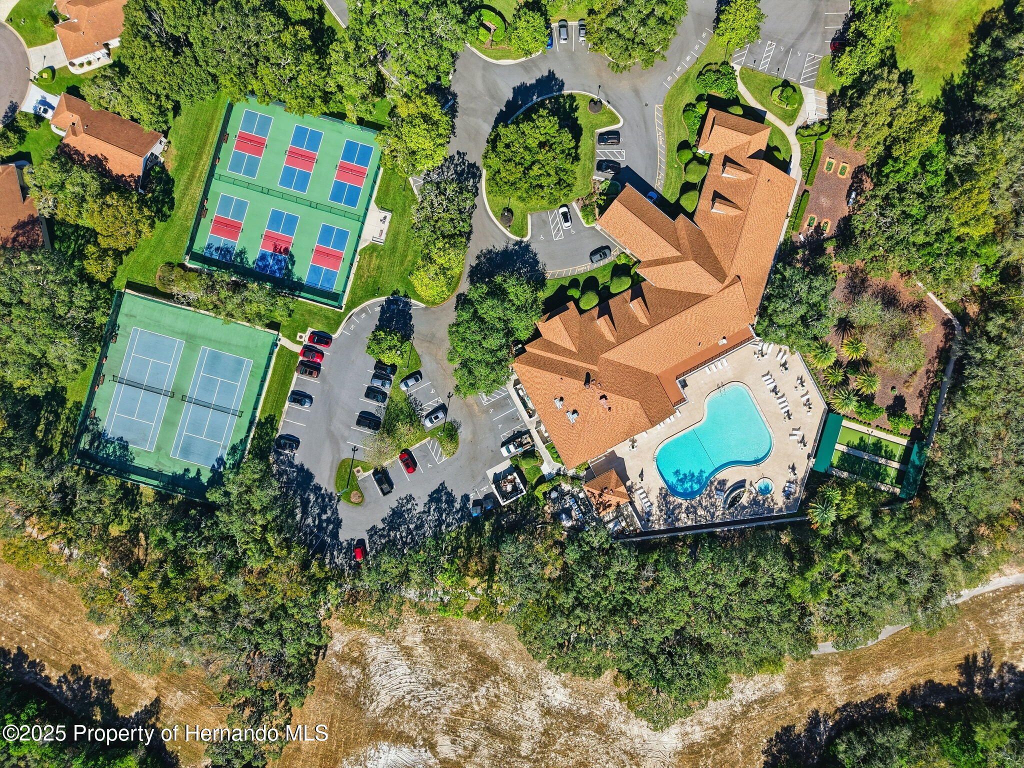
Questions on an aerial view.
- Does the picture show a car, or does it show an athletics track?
car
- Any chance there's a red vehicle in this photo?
Yes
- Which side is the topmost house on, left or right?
left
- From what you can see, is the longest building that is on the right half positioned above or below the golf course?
above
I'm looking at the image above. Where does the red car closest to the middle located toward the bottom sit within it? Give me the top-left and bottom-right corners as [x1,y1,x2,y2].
[400,451,416,473]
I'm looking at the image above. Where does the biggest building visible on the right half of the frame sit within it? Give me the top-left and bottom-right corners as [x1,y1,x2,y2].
[517,108,796,471]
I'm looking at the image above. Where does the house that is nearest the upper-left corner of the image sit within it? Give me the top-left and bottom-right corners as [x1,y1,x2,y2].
[55,0,126,63]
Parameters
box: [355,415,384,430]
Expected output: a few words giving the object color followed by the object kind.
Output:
black vehicle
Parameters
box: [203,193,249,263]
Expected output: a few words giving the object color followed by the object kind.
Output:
blue sports court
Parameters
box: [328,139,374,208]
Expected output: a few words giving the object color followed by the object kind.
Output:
blue sports court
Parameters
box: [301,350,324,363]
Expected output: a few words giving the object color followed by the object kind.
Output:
red vehicle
